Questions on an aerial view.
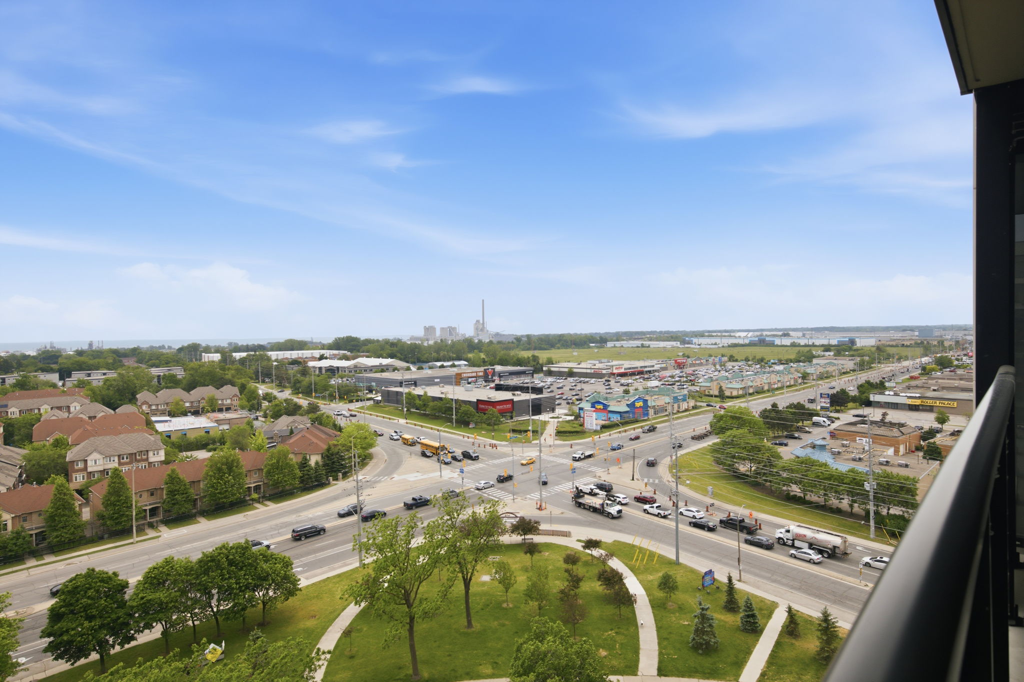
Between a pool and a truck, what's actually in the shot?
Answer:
truck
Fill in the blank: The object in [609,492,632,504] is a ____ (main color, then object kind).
white vehicle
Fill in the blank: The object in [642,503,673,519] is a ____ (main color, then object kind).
white vehicle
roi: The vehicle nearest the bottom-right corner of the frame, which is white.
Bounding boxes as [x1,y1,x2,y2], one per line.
[858,555,889,568]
